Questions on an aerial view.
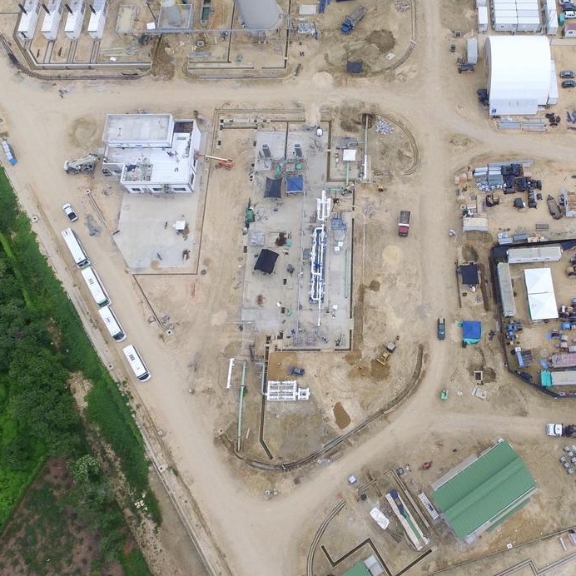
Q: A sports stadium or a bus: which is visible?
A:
bus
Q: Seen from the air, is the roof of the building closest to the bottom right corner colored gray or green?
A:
green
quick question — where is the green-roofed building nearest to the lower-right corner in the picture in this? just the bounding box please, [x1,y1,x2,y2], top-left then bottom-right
[431,440,535,540]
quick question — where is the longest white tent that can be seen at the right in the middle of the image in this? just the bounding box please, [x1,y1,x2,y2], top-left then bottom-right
[523,267,558,322]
